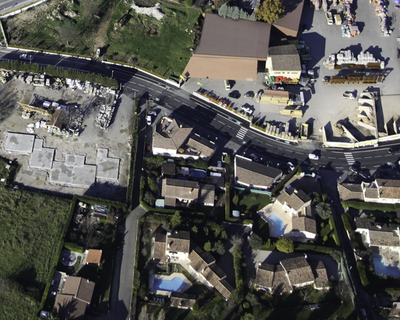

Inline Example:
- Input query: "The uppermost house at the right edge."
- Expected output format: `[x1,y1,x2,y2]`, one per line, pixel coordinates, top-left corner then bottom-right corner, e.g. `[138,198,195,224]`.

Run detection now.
[334,179,400,205]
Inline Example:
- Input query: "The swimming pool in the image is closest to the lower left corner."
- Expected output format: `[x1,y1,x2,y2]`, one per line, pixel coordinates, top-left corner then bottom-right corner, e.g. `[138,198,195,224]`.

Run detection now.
[61,254,78,267]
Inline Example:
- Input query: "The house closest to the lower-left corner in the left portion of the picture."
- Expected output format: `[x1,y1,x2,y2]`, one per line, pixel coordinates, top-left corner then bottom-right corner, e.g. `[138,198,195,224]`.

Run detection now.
[53,273,97,320]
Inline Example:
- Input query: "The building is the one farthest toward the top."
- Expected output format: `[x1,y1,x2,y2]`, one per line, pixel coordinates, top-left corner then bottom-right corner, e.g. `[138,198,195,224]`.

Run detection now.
[272,0,319,45]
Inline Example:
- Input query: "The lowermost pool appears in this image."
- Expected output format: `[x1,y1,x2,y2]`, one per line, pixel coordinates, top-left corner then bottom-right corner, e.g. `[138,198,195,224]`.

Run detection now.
[153,275,189,292]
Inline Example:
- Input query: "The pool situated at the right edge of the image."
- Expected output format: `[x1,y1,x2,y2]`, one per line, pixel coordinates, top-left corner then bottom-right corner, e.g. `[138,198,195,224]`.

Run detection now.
[372,256,400,279]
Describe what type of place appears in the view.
residential area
